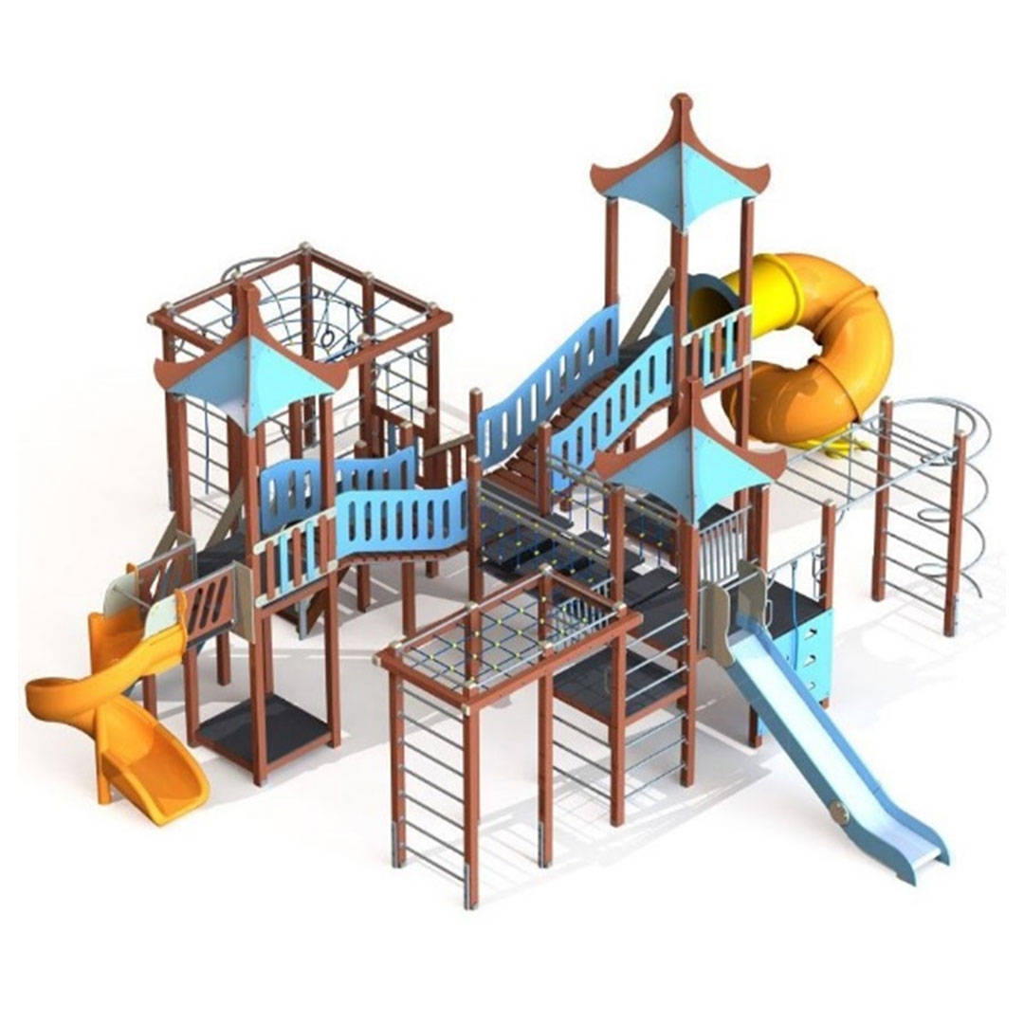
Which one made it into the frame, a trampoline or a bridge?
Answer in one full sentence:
The image shows a bridge.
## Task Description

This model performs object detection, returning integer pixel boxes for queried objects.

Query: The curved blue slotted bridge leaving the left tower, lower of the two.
[266,444,471,576]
